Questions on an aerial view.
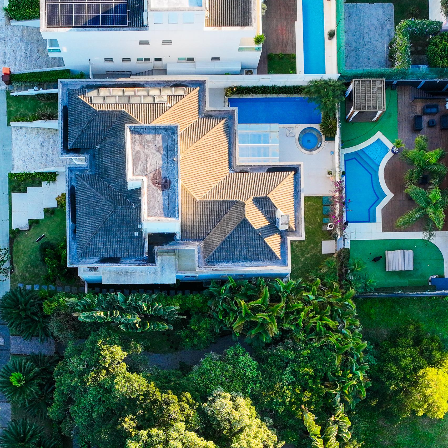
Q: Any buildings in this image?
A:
Yes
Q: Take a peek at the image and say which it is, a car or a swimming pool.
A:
swimming pool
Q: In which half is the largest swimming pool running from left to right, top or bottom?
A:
top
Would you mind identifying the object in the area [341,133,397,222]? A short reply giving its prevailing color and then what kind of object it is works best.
blue swimming pool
